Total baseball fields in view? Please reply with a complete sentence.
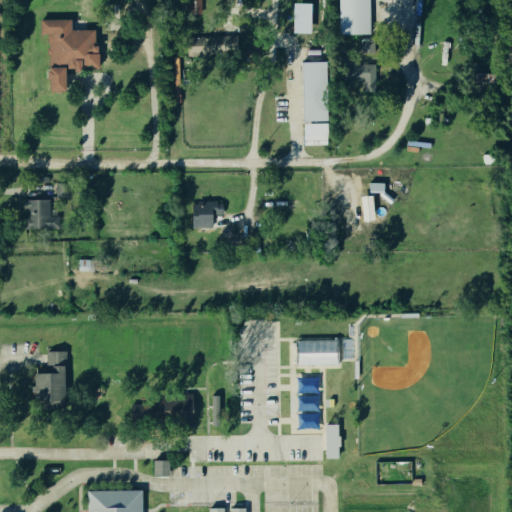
Only 1 baseball field is visible.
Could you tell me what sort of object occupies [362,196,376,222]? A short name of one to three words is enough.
house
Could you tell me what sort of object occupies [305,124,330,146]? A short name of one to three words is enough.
building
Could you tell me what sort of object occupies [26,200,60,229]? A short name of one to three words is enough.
house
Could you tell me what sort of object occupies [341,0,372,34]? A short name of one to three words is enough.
building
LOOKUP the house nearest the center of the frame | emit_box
[193,202,224,228]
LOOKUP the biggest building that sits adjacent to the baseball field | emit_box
[298,340,340,366]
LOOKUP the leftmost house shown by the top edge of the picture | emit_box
[42,20,100,92]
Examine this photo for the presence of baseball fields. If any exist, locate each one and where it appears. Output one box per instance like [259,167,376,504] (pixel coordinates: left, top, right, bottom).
[360,317,496,455]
